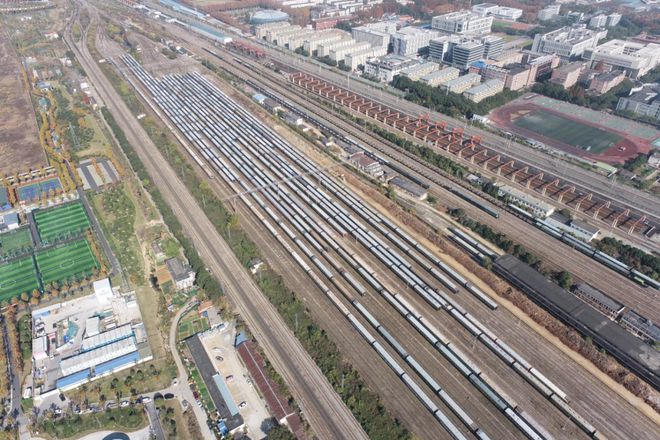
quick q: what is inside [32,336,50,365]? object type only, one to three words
building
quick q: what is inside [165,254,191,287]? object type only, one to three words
house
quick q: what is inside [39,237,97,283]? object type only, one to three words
soccer field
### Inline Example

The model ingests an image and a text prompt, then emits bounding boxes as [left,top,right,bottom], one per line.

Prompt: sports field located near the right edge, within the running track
[516,111,631,151]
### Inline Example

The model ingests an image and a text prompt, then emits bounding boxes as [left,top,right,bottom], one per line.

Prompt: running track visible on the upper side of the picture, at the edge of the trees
[500,106,650,160]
